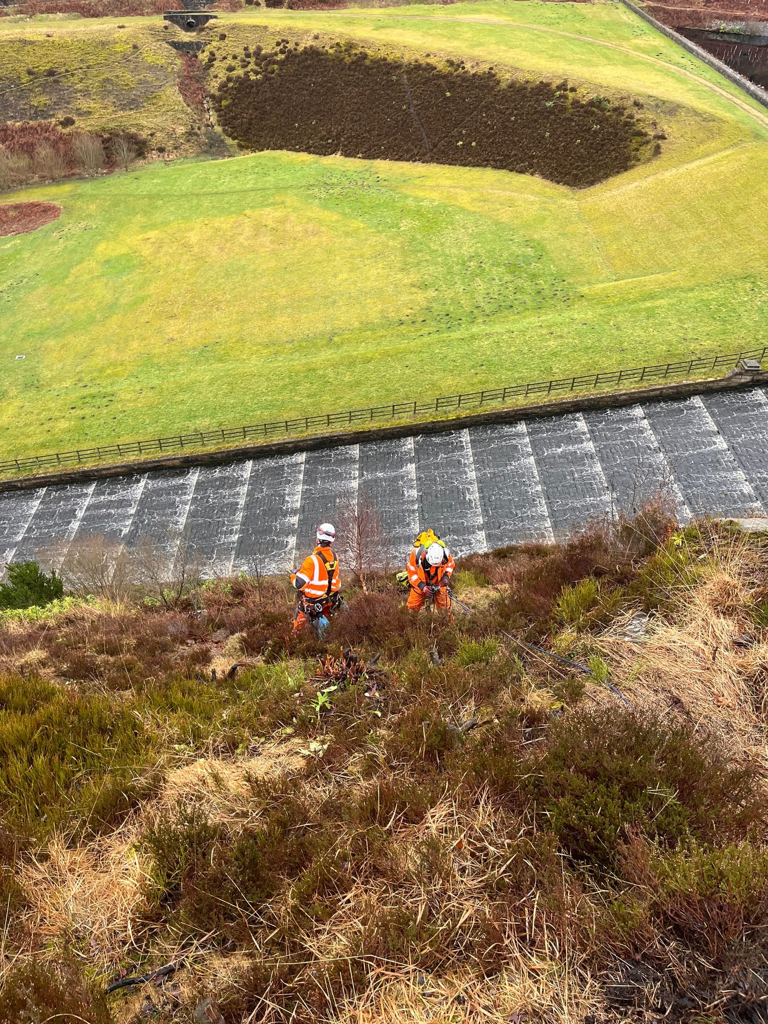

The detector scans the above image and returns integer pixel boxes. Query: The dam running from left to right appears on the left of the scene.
[163,34,213,53]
